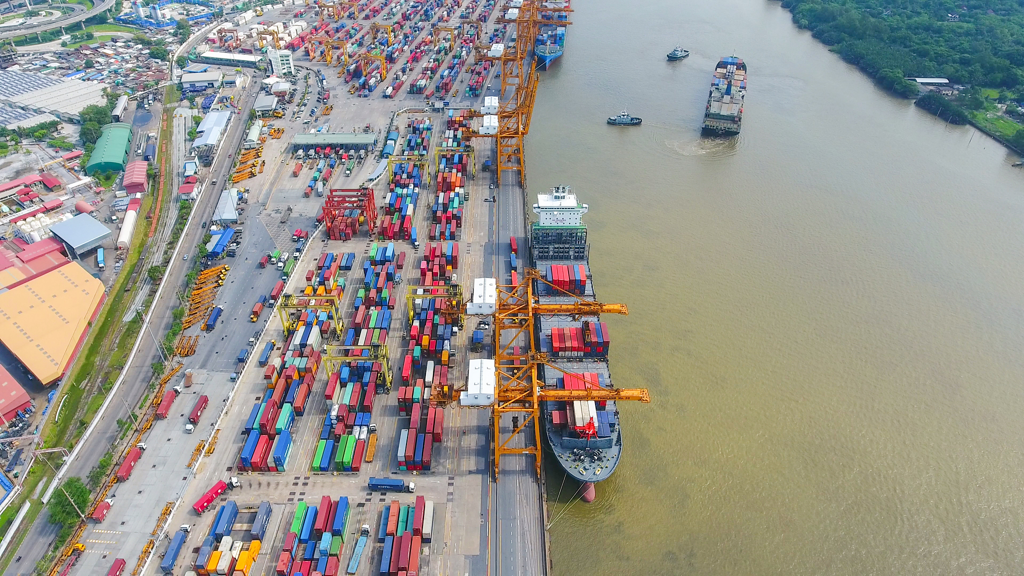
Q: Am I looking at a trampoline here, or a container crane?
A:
container crane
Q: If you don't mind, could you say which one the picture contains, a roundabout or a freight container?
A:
freight container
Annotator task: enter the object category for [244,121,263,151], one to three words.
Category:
shed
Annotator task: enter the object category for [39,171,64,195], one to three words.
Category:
house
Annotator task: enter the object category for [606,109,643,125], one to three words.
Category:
boat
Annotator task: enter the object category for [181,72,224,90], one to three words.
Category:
building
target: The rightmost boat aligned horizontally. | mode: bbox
[666,45,693,59]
